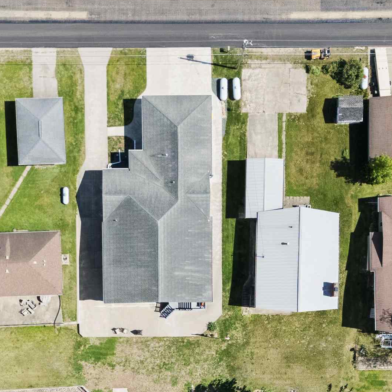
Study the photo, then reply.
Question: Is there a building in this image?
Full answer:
Yes, there's a building here.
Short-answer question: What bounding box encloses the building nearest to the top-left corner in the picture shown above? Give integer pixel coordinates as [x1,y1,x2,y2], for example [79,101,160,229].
[14,96,67,167]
